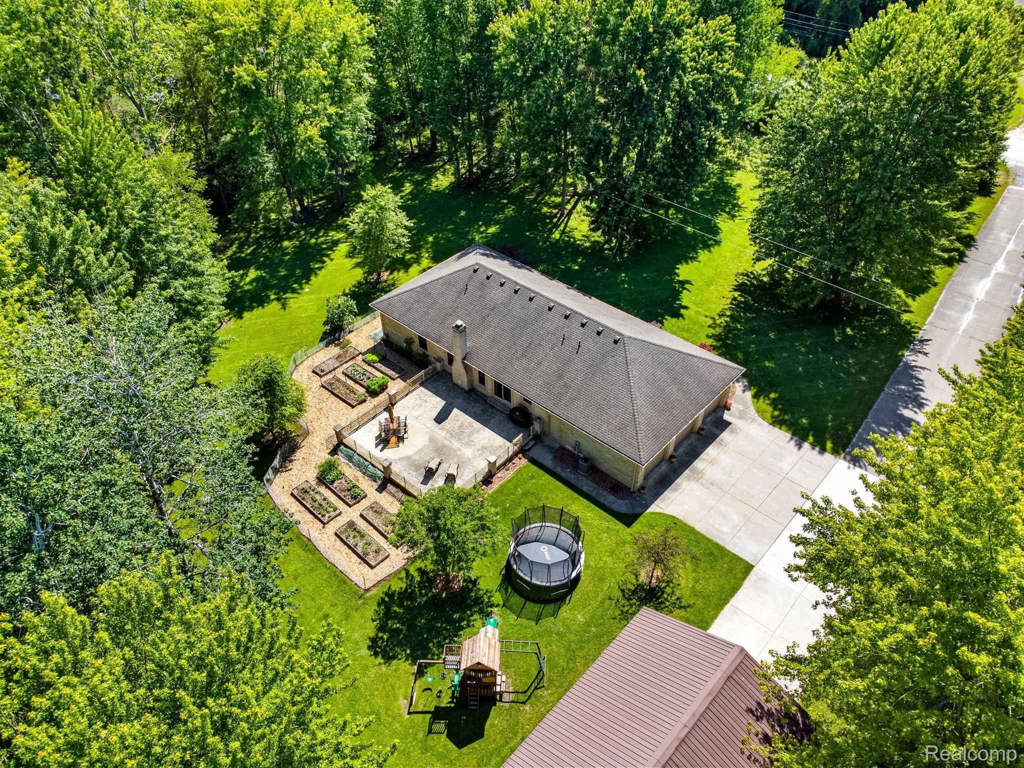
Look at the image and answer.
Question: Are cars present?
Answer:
No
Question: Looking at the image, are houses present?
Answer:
Yes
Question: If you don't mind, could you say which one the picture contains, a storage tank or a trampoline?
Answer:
trampoline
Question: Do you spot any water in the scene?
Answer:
No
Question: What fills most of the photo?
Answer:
trees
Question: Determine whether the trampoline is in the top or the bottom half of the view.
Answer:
bottom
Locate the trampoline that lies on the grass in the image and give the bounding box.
[505,502,588,598]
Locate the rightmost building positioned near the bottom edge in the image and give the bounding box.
[501,605,816,768]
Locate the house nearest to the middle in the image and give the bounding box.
[367,242,747,492]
